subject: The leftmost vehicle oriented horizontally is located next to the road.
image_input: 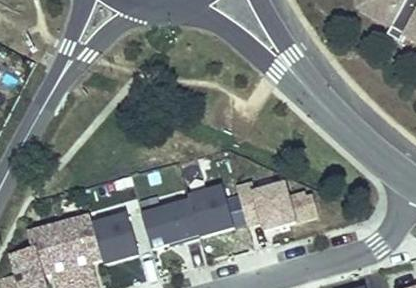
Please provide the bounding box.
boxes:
[216,265,238,277]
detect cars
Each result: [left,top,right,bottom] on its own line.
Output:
[389,254,410,266]
[254,230,266,248]
[330,235,352,246]
[190,244,202,267]
[394,277,414,288]
[216,265,238,277]
[284,247,306,259]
